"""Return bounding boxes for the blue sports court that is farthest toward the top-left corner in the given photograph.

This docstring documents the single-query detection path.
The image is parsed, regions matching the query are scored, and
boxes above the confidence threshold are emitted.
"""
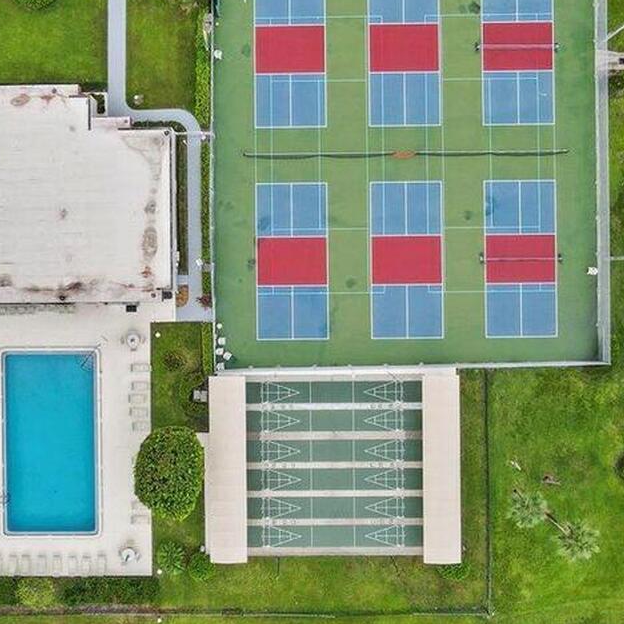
[254,0,327,129]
